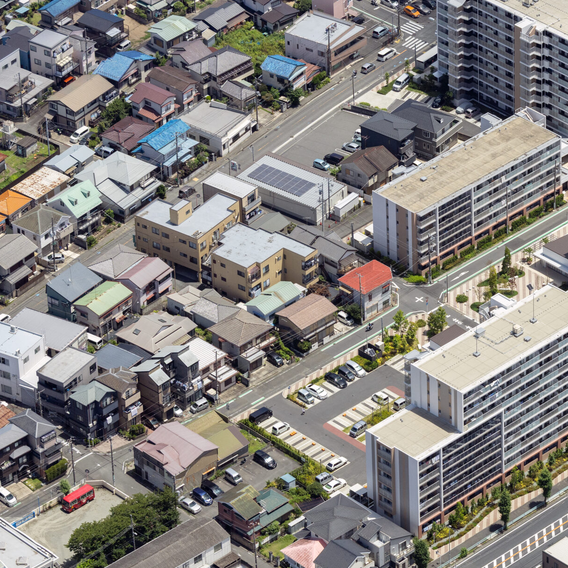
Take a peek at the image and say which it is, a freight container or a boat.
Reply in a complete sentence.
I can see a freight container in this picture.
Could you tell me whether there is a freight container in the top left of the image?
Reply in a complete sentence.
No, there's no freight container to be seen in the top left of the image.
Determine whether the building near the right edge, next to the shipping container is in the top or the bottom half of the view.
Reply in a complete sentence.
The building near the right edge, next to the shipping container sits in the top half of the picture.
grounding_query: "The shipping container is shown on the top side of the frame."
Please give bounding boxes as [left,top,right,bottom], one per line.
[332,191,360,223]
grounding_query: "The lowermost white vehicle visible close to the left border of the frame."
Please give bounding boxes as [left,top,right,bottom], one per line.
[0,489,19,506]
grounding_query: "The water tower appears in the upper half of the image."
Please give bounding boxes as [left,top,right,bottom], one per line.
[0,118,20,152]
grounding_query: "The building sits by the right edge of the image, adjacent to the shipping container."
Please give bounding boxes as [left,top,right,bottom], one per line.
[362,114,560,274]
